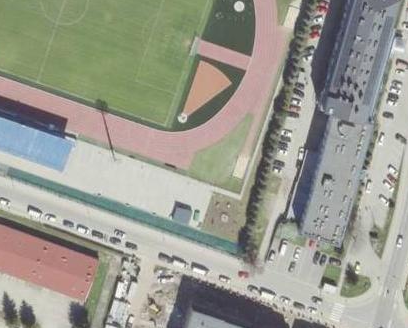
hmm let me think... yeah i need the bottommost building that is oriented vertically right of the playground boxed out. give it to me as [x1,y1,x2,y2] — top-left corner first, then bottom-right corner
[299,102,371,247]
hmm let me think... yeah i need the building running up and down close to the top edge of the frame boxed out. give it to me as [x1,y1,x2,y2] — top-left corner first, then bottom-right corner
[320,0,402,121]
